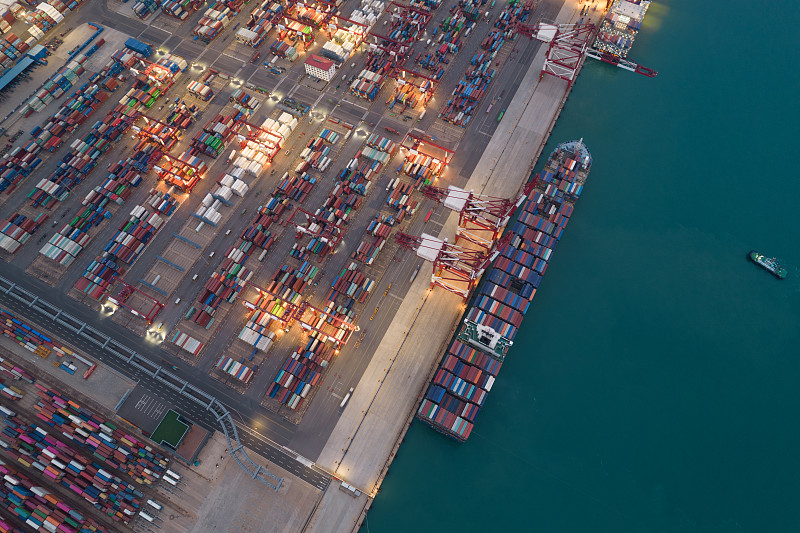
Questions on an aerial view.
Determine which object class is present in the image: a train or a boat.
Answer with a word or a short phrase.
boat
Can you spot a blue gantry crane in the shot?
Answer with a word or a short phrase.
No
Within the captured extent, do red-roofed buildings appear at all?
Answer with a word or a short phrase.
Yes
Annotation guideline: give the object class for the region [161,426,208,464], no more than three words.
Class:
building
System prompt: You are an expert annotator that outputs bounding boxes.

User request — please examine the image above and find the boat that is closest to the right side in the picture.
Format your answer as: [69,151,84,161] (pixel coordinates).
[745,251,788,278]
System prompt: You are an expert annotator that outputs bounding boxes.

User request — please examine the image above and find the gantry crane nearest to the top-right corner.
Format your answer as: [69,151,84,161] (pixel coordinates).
[516,22,659,89]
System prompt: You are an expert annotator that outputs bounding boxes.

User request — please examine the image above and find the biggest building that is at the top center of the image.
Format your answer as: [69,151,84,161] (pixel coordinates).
[304,54,335,81]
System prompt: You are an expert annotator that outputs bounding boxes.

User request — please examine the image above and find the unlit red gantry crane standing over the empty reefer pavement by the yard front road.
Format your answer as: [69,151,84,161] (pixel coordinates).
[102,279,170,329]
